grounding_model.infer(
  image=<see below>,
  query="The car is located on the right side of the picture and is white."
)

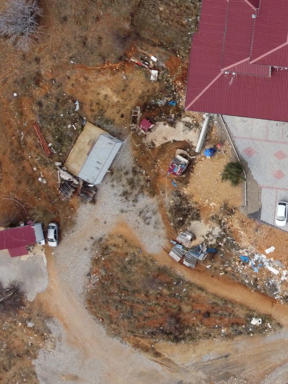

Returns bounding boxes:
[274,200,288,226]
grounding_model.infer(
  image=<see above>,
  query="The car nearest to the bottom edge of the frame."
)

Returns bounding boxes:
[46,222,61,246]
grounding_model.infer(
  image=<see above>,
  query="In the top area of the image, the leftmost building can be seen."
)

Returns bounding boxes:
[64,122,127,184]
